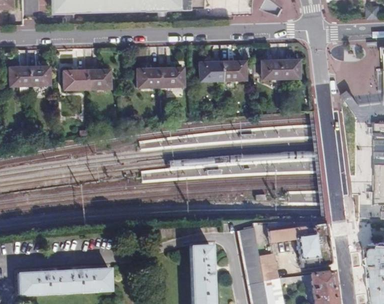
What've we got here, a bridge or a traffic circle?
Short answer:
bridge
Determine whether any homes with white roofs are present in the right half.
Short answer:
Yes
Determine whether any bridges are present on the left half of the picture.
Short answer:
No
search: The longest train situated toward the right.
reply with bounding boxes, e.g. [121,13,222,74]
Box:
[170,152,315,167]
